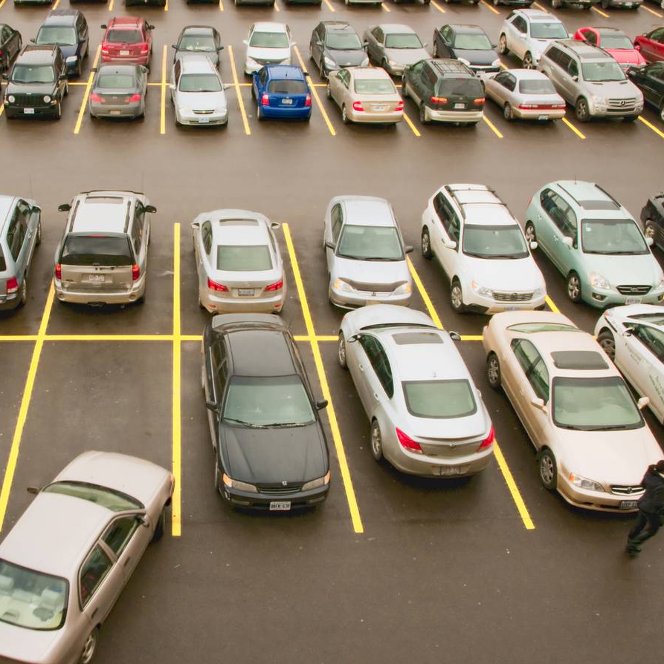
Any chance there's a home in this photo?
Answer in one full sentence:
No, this view has no home in it.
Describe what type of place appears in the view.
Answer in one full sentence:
The picture captures a parking lot.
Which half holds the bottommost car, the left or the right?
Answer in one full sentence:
The bottommost car appears in the left half of the scene.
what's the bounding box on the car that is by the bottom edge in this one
[0,454,175,664]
